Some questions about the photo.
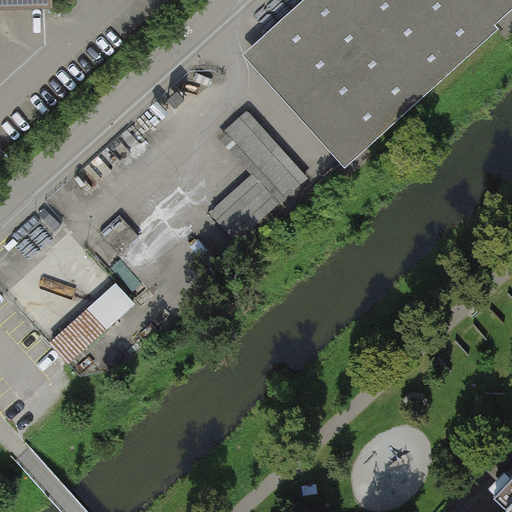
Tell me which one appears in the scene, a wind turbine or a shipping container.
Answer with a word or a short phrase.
shipping container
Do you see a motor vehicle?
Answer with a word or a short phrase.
Yes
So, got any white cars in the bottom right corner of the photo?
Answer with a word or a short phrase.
No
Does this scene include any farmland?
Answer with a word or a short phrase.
No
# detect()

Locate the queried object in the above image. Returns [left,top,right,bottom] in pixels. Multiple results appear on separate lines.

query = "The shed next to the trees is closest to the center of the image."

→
[208,174,282,242]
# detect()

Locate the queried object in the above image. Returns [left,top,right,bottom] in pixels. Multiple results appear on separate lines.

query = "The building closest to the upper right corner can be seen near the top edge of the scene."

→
[244,0,512,168]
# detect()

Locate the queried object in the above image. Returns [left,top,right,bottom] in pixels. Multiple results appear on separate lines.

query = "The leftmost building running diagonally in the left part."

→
[50,283,134,364]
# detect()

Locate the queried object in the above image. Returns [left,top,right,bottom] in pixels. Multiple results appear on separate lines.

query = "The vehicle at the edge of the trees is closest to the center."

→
[188,236,208,258]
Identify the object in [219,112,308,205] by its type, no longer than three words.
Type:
shed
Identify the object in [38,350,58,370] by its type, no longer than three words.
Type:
vehicle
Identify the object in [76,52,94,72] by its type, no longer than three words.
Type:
car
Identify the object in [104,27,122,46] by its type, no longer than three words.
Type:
car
